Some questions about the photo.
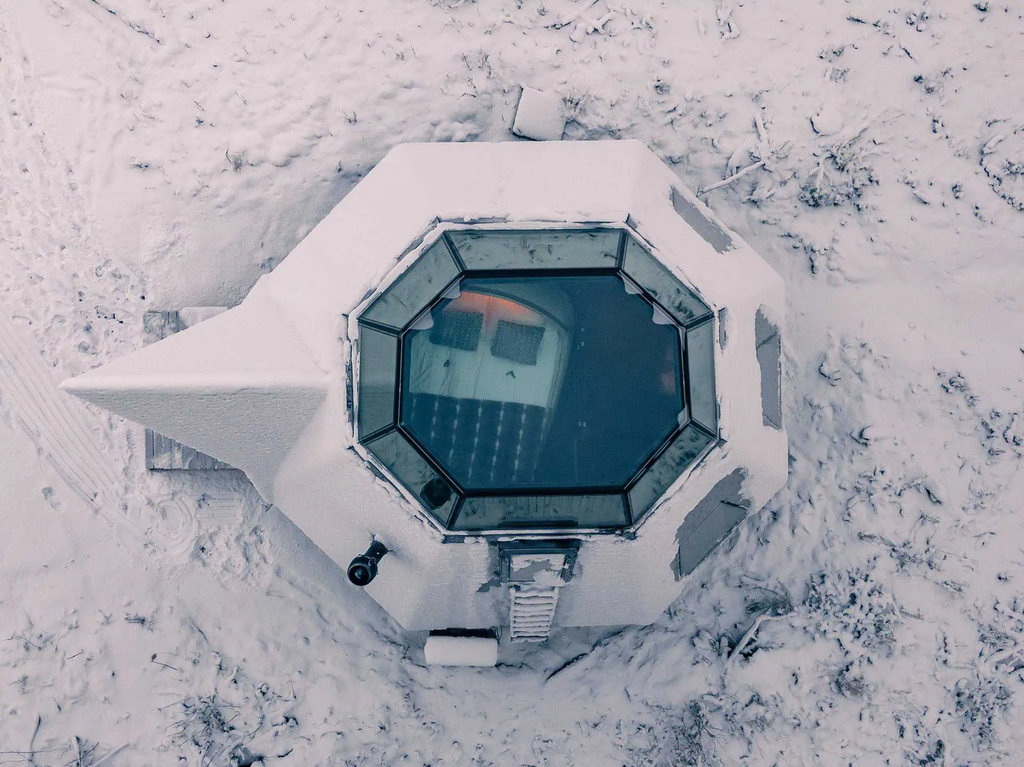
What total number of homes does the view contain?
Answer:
1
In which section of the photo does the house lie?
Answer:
center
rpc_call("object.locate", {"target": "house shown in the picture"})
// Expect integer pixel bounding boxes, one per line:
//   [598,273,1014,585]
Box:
[59,141,787,627]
